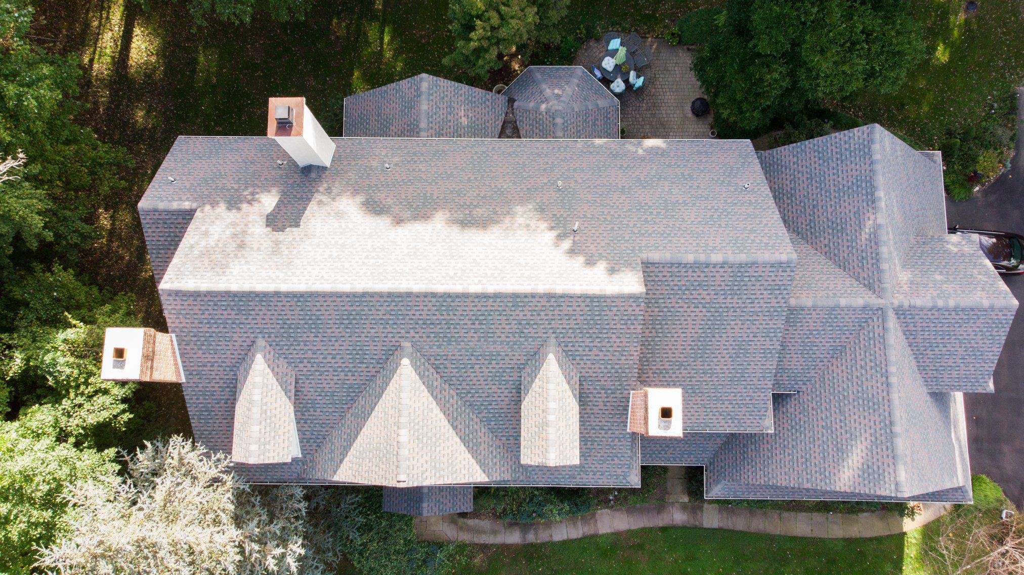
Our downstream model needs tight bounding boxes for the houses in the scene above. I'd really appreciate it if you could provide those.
[102,63,1019,515]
